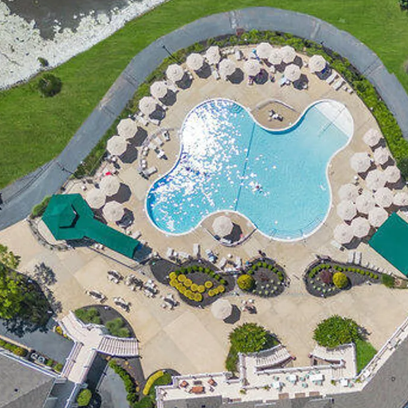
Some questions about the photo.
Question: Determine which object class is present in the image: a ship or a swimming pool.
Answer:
swimming pool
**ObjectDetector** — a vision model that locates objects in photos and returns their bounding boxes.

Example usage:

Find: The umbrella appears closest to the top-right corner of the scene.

[305,51,329,75]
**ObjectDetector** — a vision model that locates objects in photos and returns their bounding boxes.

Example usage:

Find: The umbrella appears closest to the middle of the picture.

[212,216,232,237]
